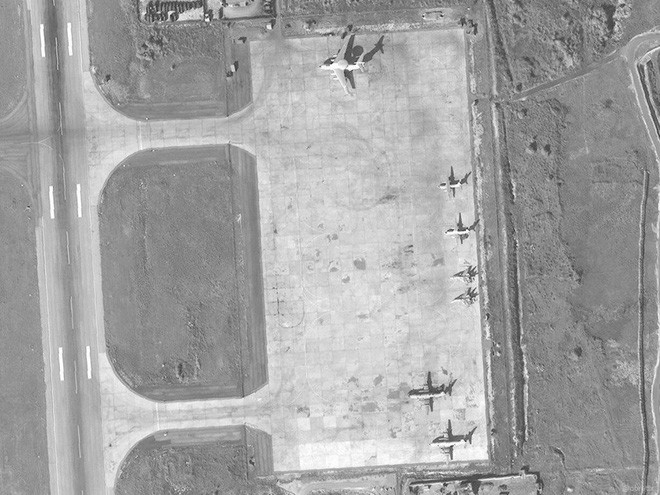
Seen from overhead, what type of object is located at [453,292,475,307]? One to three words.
airplane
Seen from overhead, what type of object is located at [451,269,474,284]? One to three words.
airplane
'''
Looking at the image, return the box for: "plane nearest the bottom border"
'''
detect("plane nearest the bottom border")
[431,423,467,464]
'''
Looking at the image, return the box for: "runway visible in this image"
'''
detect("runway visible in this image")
[23,0,115,495]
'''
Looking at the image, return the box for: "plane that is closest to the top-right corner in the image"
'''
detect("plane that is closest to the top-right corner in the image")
[439,170,463,200]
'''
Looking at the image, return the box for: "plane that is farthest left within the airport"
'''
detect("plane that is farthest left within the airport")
[320,39,366,92]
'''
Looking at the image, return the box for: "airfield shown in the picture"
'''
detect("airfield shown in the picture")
[23,0,489,495]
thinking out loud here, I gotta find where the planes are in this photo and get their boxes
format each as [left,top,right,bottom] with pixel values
[451,269,474,284]
[320,39,366,92]
[446,216,471,247]
[431,423,467,464]
[439,170,463,200]
[409,376,447,416]
[453,292,475,307]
